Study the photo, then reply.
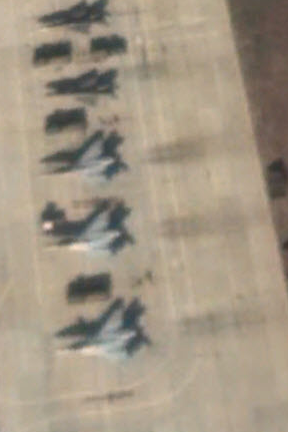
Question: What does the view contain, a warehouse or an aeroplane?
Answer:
aeroplane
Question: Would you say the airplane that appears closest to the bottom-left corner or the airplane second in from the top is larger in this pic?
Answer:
the airplane that appears closest to the bottom-left corner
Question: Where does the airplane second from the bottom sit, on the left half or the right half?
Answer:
left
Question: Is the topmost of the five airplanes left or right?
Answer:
left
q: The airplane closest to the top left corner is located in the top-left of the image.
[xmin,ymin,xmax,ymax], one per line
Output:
[36,4,107,31]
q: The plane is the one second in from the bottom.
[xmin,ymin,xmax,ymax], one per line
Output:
[43,213,136,258]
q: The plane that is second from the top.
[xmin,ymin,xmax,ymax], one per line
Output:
[44,73,116,102]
